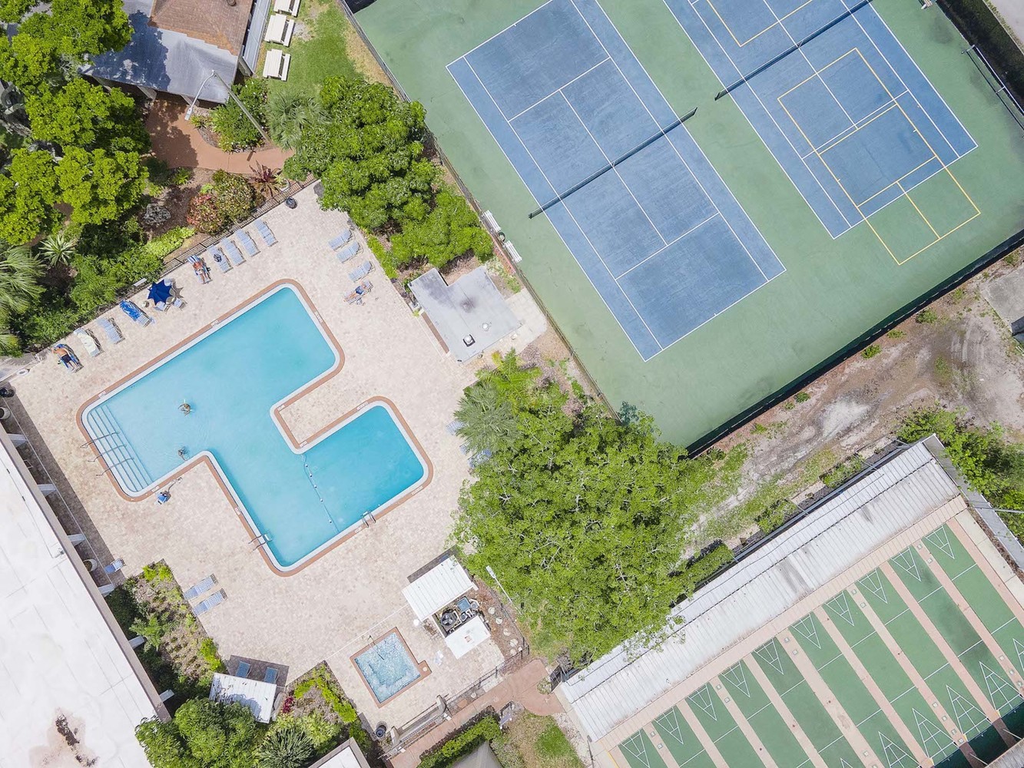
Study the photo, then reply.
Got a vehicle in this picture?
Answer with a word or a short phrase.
No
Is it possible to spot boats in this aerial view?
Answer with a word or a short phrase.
No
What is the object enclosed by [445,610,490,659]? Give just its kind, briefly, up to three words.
shed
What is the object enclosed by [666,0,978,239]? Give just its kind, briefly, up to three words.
tennis court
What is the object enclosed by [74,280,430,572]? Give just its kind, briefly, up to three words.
swimming pool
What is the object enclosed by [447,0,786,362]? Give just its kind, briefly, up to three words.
tennis court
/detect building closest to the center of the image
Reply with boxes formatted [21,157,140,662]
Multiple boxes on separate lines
[409,267,523,362]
